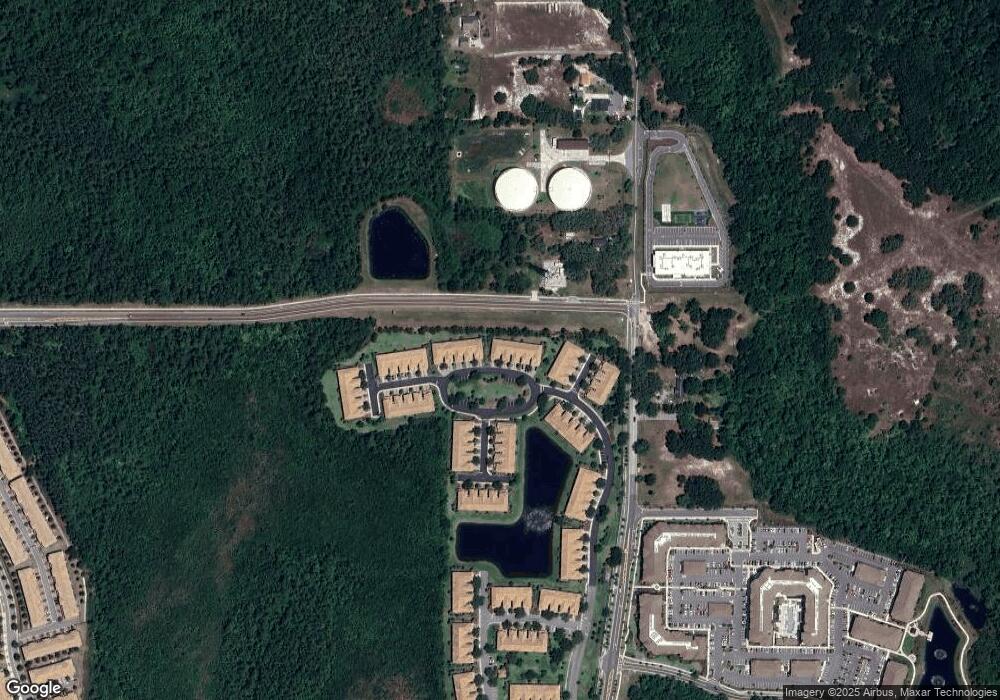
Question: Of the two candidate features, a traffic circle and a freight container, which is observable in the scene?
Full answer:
This aerial view contains a traffic circle.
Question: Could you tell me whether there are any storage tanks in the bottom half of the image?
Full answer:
No, looking in the bottom half of the image, there is no storage tank.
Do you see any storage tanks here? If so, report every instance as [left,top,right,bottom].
[494,167,539,212]
[547,166,593,212]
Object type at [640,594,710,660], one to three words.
building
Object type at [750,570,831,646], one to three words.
building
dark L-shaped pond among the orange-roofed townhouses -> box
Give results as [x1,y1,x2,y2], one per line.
[455,427,574,579]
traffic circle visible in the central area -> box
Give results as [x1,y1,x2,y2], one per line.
[439,368,537,419]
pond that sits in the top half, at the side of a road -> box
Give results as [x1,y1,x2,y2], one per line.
[368,206,430,279]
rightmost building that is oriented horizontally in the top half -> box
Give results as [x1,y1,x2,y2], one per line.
[655,251,710,277]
